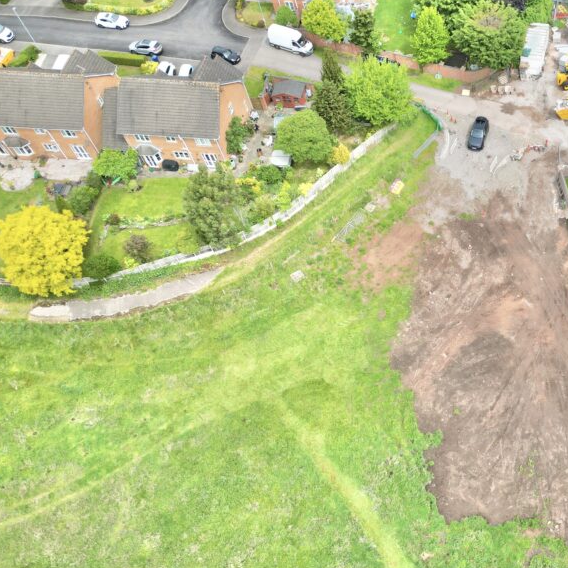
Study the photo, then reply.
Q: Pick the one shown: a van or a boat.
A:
van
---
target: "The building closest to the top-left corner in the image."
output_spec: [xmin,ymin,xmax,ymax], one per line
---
[0,49,120,166]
